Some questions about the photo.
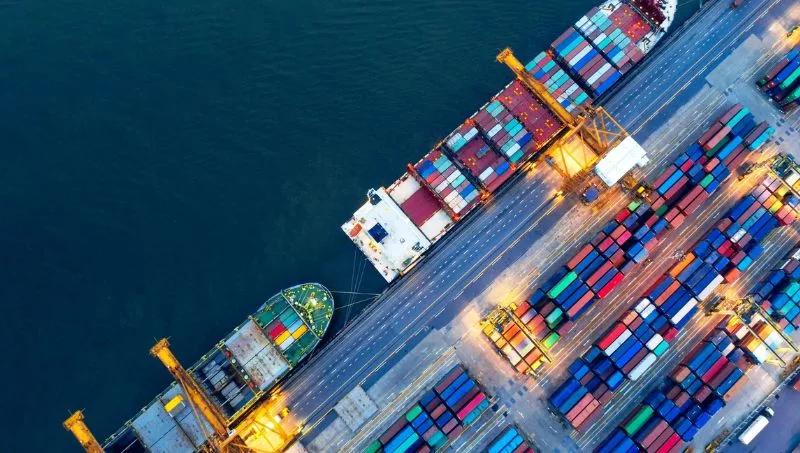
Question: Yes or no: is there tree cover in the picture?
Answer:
No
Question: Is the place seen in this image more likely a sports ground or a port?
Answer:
port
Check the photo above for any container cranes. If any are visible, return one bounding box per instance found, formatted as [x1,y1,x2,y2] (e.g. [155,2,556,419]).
[52,416,97,453]
[706,298,800,369]
[143,340,311,453]
[492,41,654,207]
[480,304,553,378]
[738,151,800,198]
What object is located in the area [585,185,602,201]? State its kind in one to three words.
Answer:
vehicle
